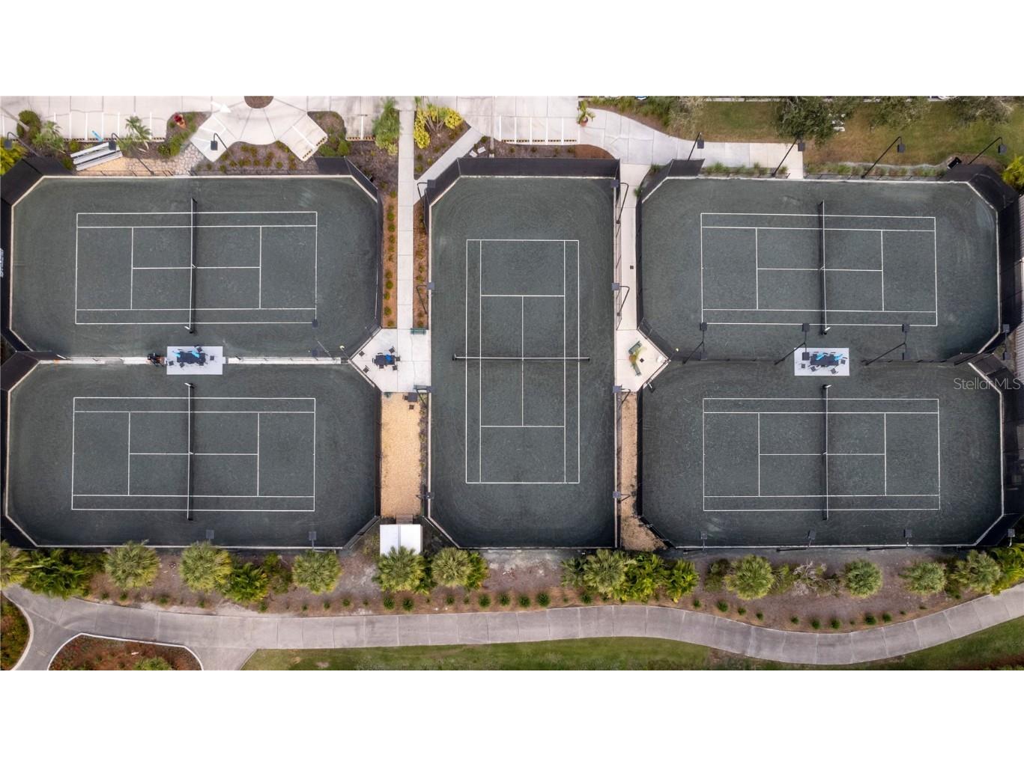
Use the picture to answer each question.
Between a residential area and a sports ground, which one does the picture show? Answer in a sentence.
The picture captures a sports ground.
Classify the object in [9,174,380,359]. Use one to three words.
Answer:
tennis court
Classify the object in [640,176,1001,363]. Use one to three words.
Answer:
tennis court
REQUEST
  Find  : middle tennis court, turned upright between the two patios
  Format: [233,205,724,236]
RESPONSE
[427,175,618,550]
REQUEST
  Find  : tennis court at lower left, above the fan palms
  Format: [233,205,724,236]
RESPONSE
[4,361,378,550]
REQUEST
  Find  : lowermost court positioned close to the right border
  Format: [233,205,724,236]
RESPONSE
[643,362,1006,549]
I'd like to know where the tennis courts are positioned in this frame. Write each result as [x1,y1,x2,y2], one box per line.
[427,175,618,550]
[640,176,1001,363]
[4,361,378,550]
[643,362,1006,549]
[9,174,380,359]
